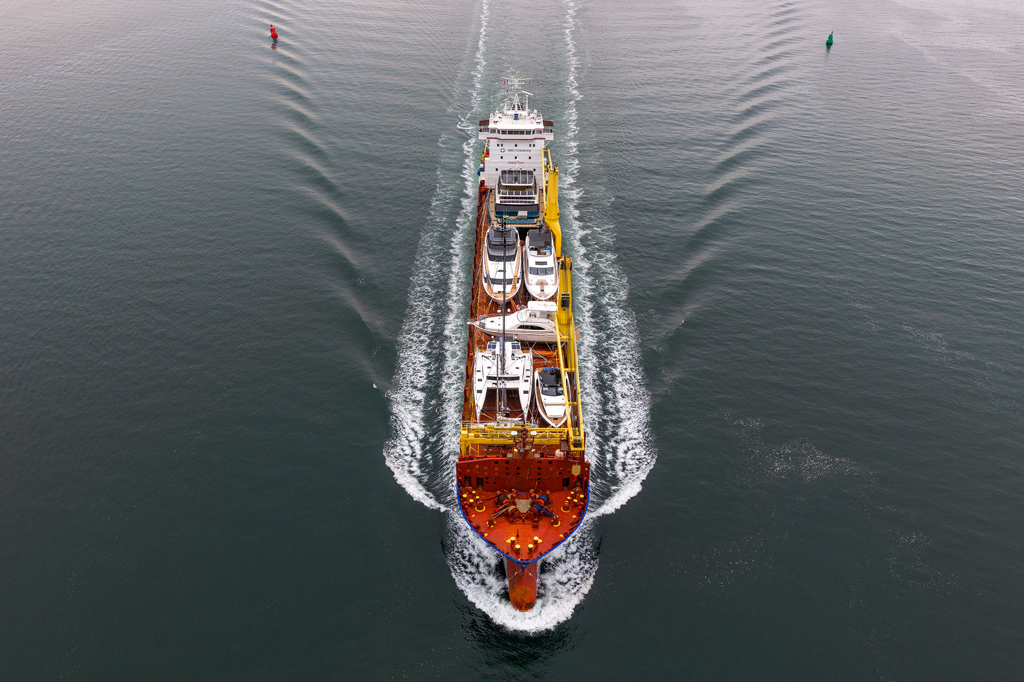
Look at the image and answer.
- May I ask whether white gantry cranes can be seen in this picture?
No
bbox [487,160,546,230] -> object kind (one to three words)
boat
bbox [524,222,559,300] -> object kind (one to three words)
boat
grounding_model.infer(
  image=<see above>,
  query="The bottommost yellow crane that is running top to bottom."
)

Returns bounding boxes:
[553,258,585,496]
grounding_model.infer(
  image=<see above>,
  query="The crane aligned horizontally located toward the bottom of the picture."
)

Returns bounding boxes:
[459,421,583,463]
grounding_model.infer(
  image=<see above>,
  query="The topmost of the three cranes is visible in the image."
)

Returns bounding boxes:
[542,149,563,261]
